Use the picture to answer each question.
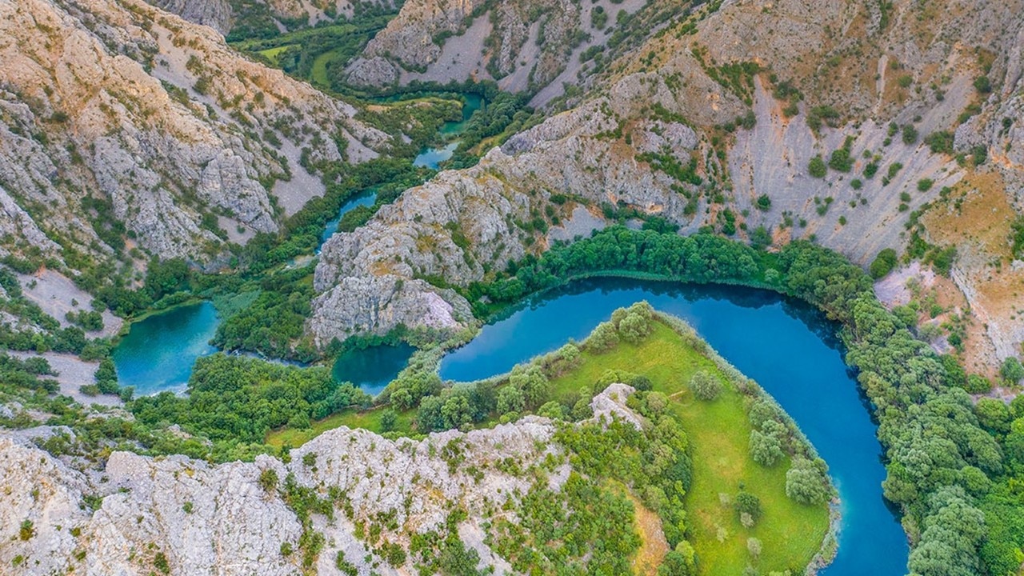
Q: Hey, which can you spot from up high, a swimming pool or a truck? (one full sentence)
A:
Of the two, only a swimming pool appears.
